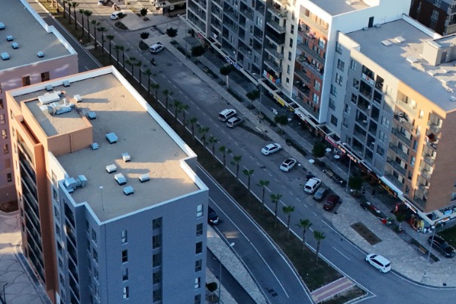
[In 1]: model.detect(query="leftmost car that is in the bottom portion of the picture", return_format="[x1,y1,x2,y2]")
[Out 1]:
[207,203,224,223]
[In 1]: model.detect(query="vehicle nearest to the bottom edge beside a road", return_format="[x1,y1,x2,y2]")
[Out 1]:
[363,250,394,269]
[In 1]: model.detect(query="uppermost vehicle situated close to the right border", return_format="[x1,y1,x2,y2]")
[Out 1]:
[429,234,456,253]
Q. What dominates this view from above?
buildings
